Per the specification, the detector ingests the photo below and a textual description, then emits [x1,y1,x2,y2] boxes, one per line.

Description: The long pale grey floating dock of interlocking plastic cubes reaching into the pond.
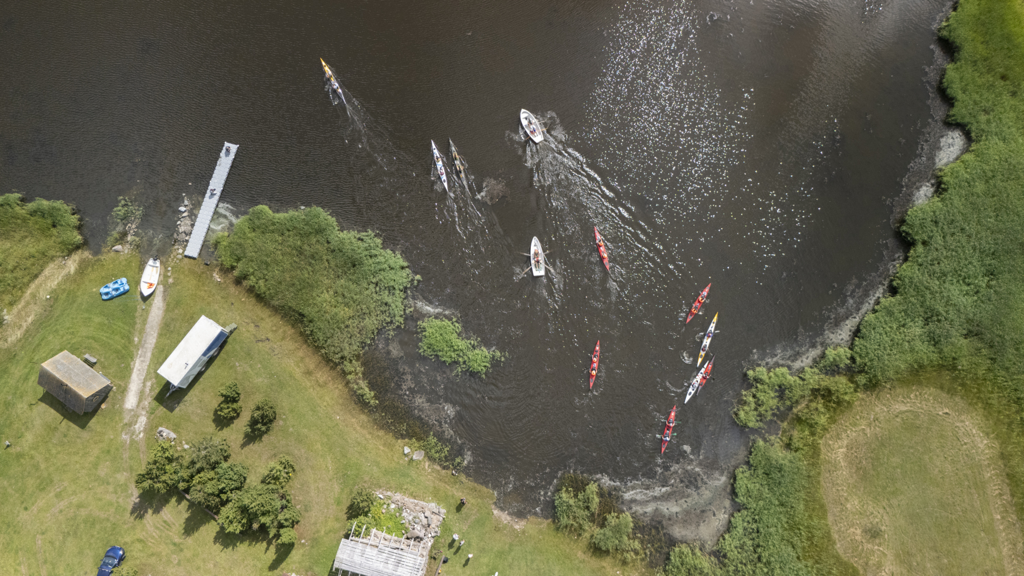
[185,141,239,260]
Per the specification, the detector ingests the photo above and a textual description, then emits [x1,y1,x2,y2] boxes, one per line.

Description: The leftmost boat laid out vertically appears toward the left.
[144,256,162,296]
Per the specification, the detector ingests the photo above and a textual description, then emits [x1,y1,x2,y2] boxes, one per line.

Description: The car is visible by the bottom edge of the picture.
[93,546,124,576]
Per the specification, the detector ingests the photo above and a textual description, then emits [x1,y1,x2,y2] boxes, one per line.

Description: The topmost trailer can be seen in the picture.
[158,316,231,396]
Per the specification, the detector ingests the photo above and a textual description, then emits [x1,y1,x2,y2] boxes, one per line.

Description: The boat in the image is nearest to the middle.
[530,236,544,277]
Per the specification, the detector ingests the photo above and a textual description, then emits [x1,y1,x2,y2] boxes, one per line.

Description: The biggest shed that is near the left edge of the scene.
[38,350,112,415]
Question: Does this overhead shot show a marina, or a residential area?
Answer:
marina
